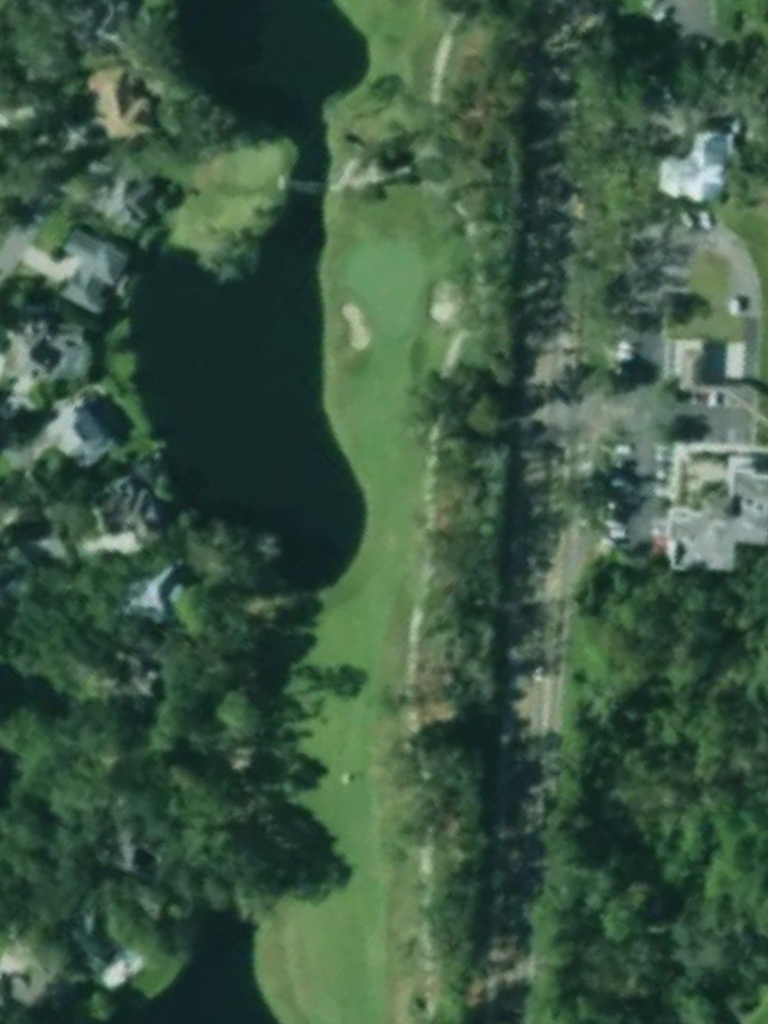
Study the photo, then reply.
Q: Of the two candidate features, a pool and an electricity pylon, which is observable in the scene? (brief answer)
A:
pool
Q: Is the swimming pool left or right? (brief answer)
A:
right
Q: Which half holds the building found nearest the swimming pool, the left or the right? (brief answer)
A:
right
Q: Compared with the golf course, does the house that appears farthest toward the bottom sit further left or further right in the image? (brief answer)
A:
left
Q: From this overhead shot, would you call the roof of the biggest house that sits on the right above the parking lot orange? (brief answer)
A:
No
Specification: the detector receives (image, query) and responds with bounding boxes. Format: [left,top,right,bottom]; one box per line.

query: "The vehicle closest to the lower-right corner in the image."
[532,667,545,684]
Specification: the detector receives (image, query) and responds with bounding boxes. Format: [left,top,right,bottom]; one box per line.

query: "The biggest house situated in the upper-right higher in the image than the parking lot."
[659,127,736,205]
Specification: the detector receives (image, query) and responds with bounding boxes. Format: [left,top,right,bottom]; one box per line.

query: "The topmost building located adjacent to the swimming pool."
[676,340,703,382]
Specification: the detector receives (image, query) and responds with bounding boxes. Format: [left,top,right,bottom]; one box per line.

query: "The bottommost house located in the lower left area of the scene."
[69,919,145,993]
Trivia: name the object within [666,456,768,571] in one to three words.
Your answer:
building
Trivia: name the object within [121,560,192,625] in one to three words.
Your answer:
house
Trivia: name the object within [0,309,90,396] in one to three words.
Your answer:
house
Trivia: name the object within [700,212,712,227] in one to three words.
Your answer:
vehicle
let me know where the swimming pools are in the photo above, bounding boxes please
[694,339,745,385]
